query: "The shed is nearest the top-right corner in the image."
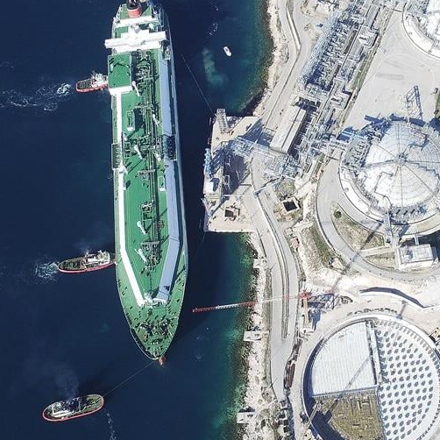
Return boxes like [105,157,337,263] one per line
[270,104,307,159]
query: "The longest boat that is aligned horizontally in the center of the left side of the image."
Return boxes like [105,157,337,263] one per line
[58,253,115,275]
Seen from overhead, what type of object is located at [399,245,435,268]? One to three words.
building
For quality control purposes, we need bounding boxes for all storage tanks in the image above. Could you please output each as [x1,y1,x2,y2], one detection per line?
[301,304,440,440]
[401,0,440,70]
[338,92,440,239]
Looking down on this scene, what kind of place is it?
industrial area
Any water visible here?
Yes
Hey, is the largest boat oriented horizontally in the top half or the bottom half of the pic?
bottom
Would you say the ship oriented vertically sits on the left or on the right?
left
